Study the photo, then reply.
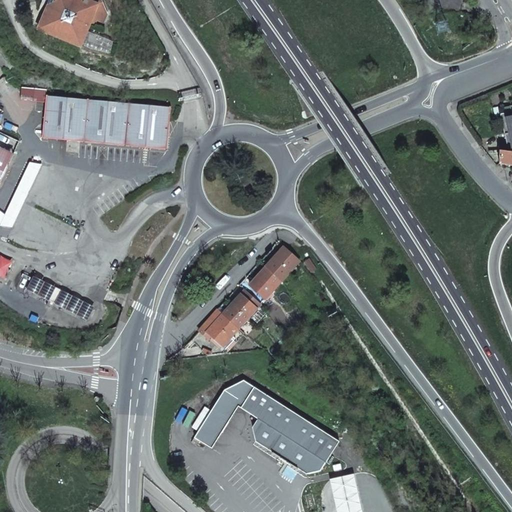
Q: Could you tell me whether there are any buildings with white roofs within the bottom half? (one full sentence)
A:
Yes, the scene does show a building with a white roof within the bottom half.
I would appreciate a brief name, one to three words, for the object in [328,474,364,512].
building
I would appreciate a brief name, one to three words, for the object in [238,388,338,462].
building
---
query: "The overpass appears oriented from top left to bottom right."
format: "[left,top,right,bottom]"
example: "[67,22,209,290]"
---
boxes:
[291,62,392,190]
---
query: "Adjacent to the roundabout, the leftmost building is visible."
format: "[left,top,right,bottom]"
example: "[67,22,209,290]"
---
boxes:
[40,95,170,153]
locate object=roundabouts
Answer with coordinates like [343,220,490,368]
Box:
[183,123,297,234]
